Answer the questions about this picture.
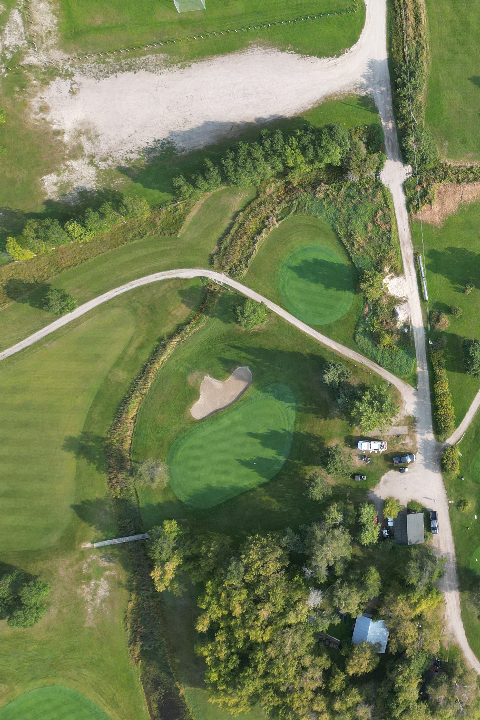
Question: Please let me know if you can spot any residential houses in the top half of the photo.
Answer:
No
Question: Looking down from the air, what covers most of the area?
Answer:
grass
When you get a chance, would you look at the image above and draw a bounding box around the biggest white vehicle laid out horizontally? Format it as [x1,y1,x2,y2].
[358,441,387,453]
